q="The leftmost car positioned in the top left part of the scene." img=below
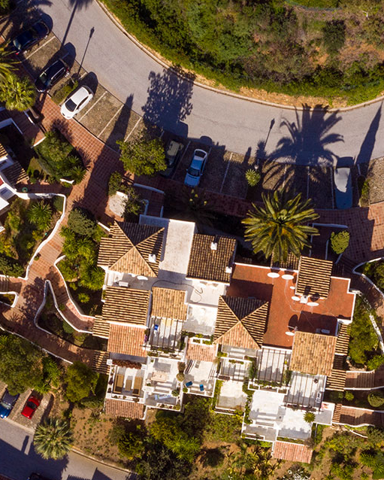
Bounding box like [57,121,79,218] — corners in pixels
[12,20,53,54]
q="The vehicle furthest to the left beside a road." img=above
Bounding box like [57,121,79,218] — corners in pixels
[0,389,21,422]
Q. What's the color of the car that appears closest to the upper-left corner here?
black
